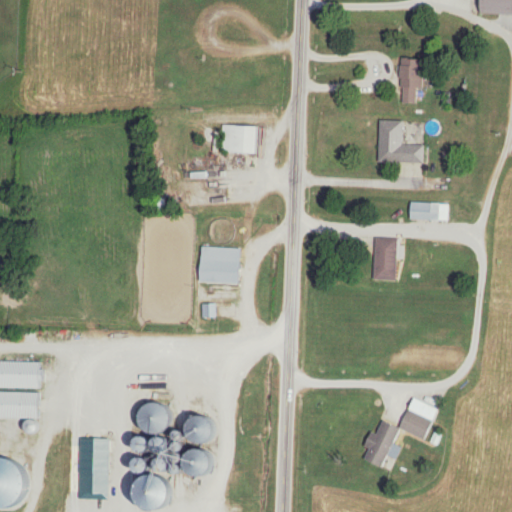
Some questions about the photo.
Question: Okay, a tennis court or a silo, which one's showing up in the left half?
silo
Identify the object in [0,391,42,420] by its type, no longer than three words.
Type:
shed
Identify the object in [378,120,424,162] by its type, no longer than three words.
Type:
house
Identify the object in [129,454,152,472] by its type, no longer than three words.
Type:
silo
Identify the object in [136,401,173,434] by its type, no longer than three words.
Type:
silo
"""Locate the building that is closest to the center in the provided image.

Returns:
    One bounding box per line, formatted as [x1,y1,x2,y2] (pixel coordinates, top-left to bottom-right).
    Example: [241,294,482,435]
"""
[199,246,243,285]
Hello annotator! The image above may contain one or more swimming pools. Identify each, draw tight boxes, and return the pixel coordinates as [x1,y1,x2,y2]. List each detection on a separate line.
[426,120,440,135]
